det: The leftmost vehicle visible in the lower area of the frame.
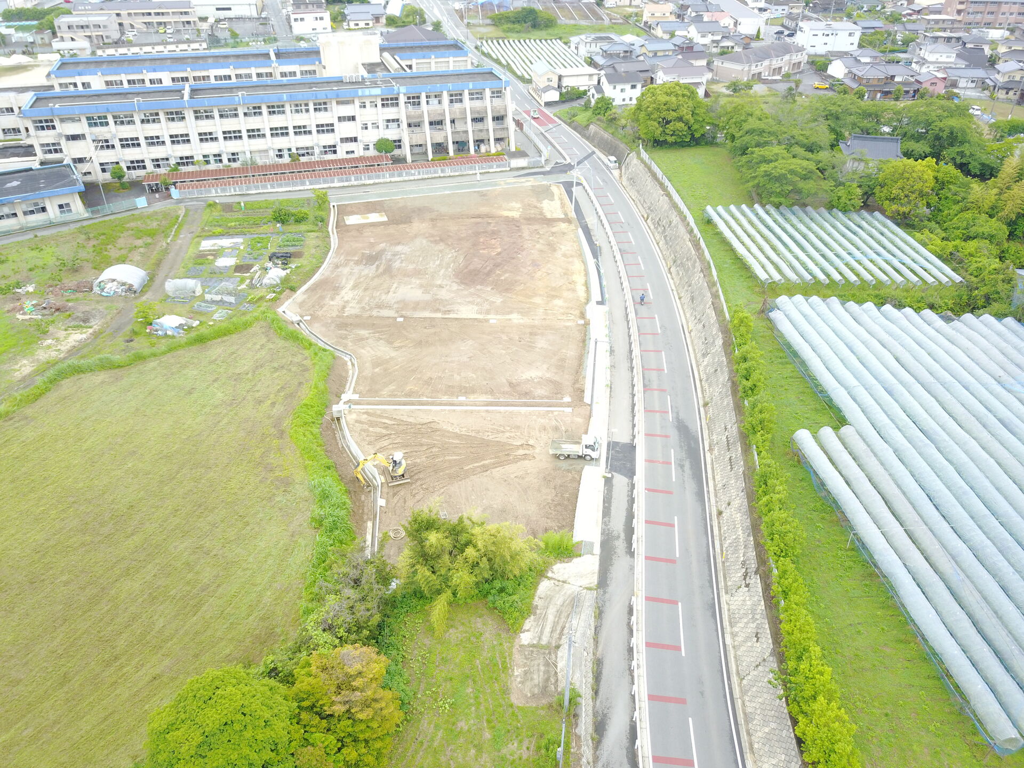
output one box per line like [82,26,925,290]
[354,449,407,489]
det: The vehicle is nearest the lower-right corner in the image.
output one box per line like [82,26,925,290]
[550,435,601,463]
